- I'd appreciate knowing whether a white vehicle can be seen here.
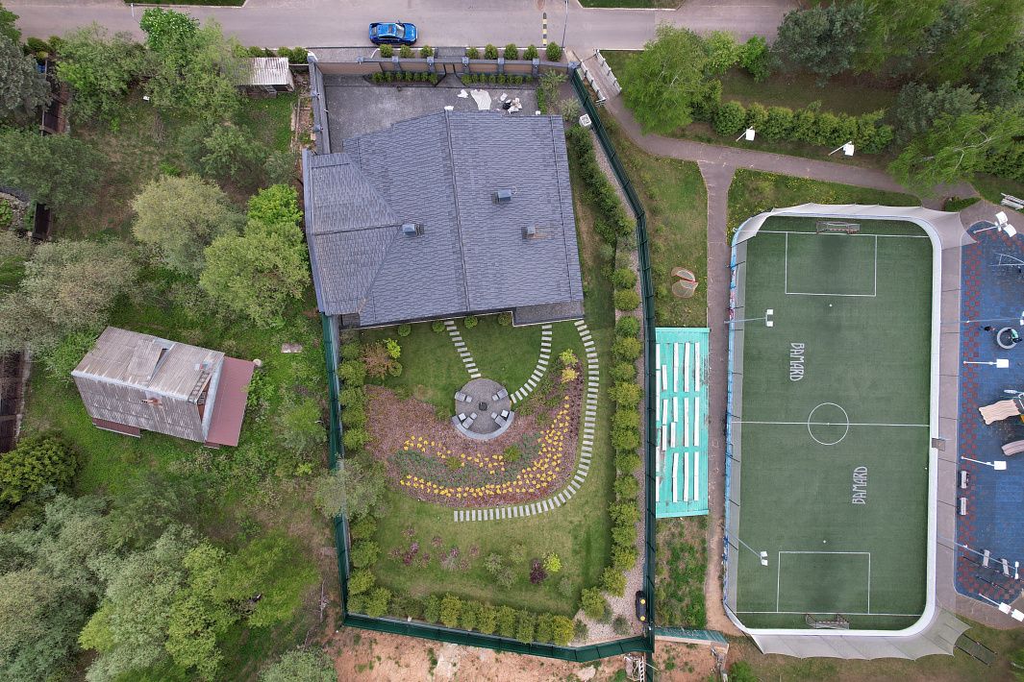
No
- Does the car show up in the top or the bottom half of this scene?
top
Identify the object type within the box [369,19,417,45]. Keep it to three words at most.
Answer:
car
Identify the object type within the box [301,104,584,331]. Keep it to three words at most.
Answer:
house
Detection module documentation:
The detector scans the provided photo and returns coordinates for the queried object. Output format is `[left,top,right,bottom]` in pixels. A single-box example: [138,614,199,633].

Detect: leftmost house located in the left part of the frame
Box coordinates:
[70,327,255,454]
